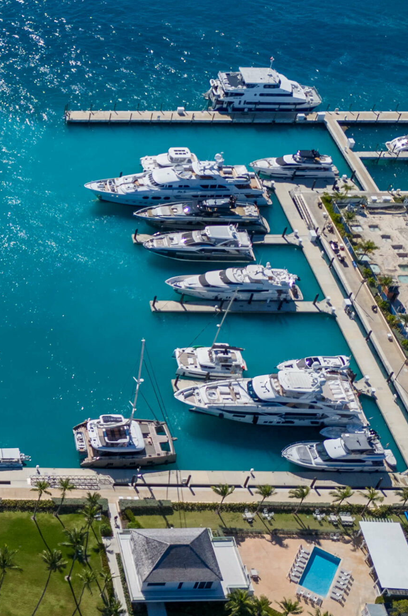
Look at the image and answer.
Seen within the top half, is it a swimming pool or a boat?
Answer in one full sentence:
You can see a boat within the top half.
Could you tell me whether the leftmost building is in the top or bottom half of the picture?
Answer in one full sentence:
The bottom half of the photo is where the leftmost building is.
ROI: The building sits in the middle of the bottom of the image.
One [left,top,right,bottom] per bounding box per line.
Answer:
[108,515,254,614]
